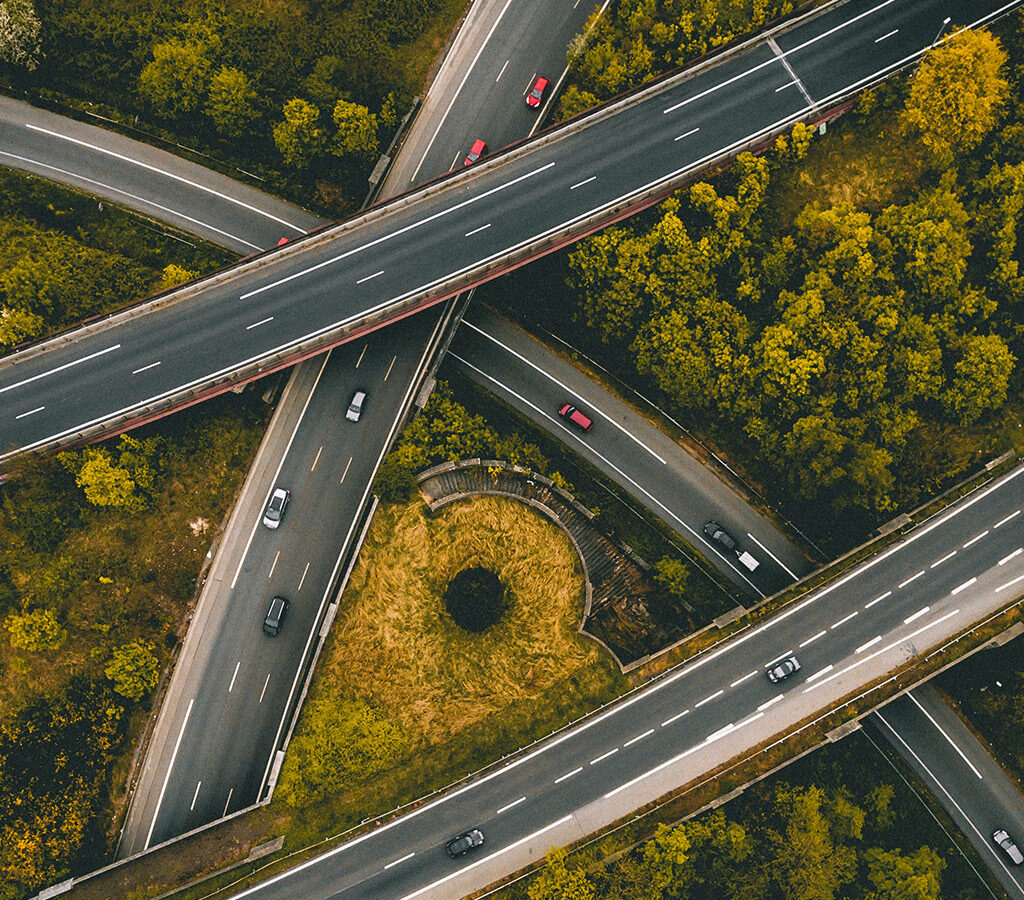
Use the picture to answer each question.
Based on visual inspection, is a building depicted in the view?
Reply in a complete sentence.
No, there's no building here.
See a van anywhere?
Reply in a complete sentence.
Yes, I can see a van in this picture.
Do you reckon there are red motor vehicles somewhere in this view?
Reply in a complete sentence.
Yes, the photo shows a red motor vehicle.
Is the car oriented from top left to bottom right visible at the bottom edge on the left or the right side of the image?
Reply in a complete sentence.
The car oriented from top left to bottom right visible at the bottom edge sits on the right side.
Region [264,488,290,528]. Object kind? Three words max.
car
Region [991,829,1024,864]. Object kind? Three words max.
car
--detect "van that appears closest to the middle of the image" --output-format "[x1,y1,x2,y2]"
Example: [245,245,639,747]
[559,402,592,430]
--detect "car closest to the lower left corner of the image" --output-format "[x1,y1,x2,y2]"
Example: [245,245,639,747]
[263,596,288,635]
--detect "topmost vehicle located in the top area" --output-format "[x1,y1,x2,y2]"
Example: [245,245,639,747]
[524,74,550,110]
